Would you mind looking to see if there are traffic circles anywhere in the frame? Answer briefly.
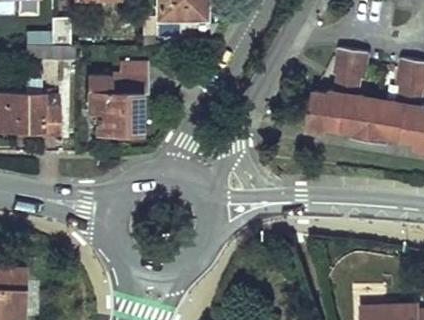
Yes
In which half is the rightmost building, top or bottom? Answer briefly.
top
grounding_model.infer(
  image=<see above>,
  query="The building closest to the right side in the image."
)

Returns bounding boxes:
[398,57,424,98]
